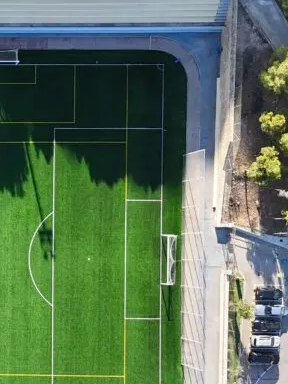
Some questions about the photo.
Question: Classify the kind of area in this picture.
sports ground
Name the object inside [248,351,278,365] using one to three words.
car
